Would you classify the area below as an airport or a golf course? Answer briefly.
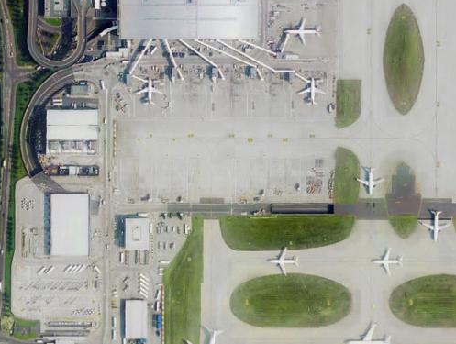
airport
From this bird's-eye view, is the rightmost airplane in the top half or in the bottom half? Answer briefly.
bottom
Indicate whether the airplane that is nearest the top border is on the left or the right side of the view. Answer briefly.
right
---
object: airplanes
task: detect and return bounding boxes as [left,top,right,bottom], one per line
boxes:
[358,167,384,195]
[138,78,164,105]
[208,331,219,344]
[345,323,390,344]
[372,248,402,275]
[422,212,450,242]
[299,78,326,105]
[268,248,298,275]
[285,17,322,46]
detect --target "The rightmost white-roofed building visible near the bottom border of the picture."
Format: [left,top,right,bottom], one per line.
[125,301,147,340]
